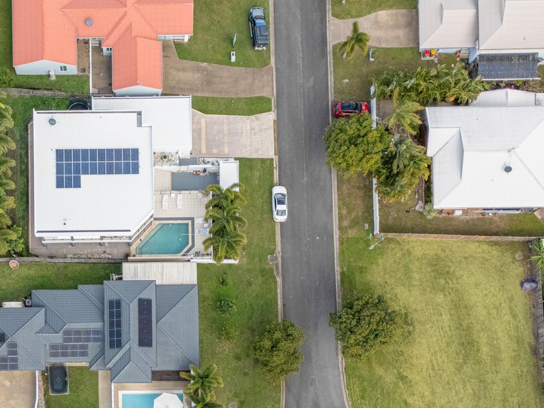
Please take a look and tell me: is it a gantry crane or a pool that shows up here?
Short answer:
pool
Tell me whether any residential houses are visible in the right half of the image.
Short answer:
Yes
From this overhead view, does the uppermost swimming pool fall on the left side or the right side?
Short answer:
left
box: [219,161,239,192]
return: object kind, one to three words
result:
building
